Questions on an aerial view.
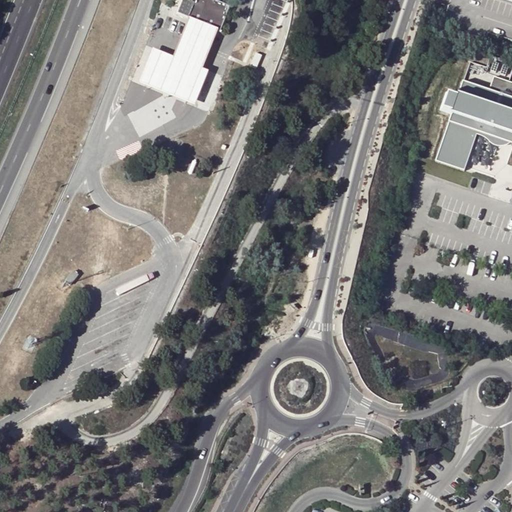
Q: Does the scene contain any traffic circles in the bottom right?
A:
Yes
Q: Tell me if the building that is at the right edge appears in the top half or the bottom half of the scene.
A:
top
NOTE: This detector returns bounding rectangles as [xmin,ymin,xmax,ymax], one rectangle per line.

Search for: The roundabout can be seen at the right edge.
[460,358,512,425]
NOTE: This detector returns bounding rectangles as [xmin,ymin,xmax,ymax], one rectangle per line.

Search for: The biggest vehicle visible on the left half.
[112,273,151,296]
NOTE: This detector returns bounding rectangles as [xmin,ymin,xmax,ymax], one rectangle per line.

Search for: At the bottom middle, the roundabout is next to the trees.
[168,322,402,512]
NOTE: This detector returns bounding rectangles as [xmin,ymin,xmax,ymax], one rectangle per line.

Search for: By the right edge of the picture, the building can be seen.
[436,62,512,170]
